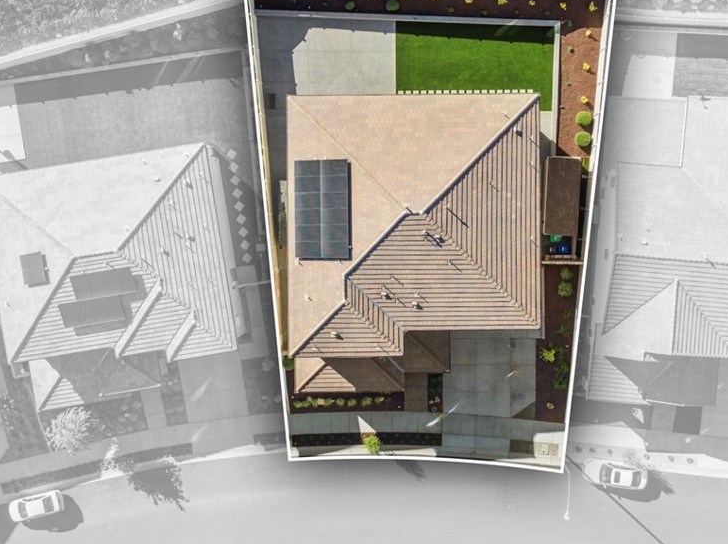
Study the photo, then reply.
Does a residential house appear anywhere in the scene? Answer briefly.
Yes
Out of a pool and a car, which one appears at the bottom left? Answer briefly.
car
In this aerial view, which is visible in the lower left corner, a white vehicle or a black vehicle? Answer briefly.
white vehicle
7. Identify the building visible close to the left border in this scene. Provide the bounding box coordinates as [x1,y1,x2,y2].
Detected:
[0,142,250,413]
